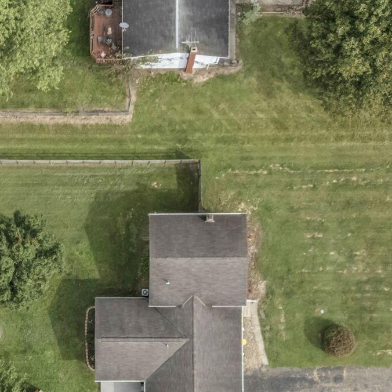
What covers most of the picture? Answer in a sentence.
Most of the picture is covered by grass.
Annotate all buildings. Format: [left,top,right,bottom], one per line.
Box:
[95,211,257,392]
[122,0,230,74]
